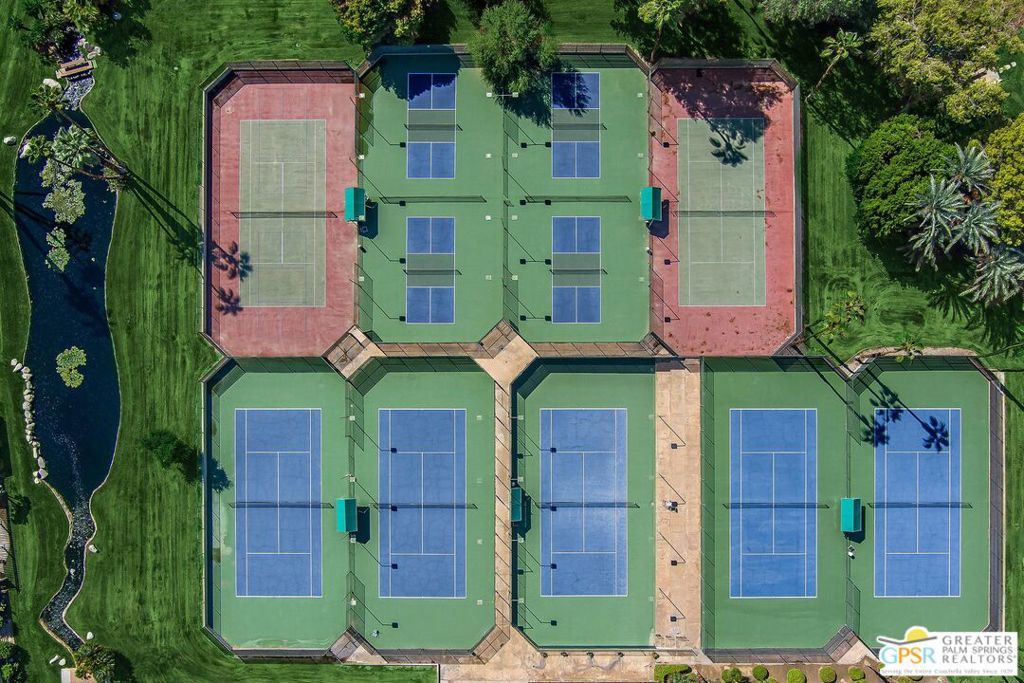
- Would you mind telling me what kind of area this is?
sports ground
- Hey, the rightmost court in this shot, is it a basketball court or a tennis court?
tennis court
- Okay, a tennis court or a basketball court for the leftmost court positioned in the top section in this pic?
tennis court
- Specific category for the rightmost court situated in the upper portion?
tennis court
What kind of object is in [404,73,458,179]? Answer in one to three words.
sports court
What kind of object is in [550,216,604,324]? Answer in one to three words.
sports court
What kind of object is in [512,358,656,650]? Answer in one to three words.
tennis court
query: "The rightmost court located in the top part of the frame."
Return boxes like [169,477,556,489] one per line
[652,66,795,356]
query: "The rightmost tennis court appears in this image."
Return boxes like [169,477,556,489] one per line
[847,358,990,650]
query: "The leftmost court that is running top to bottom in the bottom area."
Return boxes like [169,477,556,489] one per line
[206,358,351,650]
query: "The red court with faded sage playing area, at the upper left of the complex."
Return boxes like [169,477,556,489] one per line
[206,69,358,357]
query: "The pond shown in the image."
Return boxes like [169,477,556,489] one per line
[13,72,119,658]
